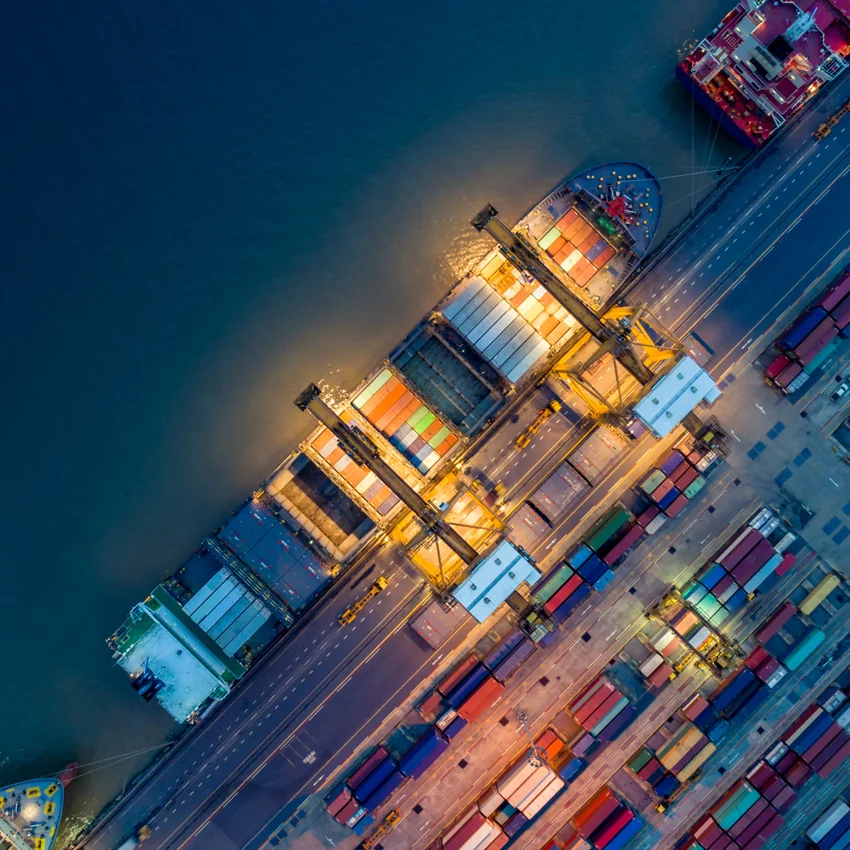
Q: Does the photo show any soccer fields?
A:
No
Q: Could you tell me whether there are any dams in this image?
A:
No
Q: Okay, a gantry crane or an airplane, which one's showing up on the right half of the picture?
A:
gantry crane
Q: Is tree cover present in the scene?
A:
No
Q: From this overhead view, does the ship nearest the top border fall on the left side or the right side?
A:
right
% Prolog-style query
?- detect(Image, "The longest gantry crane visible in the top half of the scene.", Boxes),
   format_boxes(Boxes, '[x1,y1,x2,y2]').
[471,204,721,445]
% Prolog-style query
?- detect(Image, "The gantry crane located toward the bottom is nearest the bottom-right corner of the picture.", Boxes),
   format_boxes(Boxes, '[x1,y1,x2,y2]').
[642,584,748,685]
